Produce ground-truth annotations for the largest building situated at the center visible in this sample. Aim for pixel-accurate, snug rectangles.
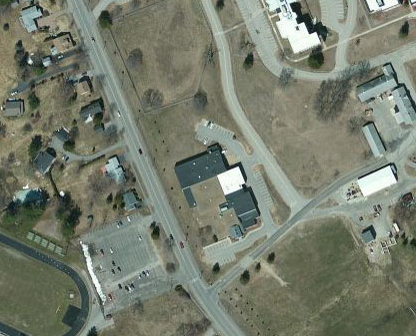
[175,144,259,229]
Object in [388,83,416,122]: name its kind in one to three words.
barn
